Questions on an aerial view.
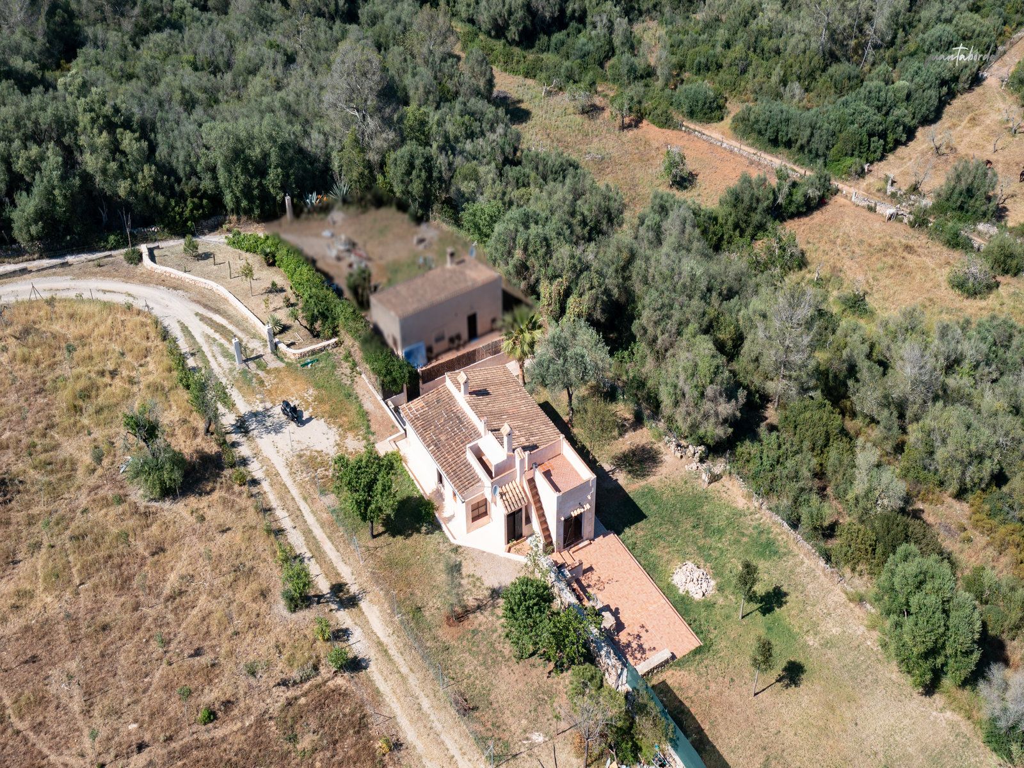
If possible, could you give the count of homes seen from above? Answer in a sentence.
The picture shows 2 homes.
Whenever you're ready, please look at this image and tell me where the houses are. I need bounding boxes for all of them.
[378,249,506,360]
[370,363,612,562]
